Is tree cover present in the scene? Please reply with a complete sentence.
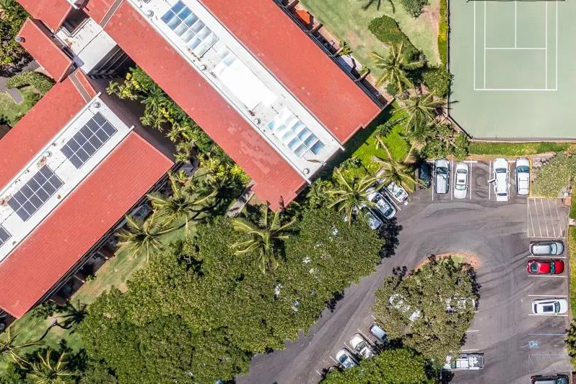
Yes, tree cover can be seen from above here.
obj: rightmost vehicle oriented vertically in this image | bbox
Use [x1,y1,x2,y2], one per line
[513,157,532,196]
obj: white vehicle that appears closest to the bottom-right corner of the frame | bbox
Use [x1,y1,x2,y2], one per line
[531,298,566,317]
